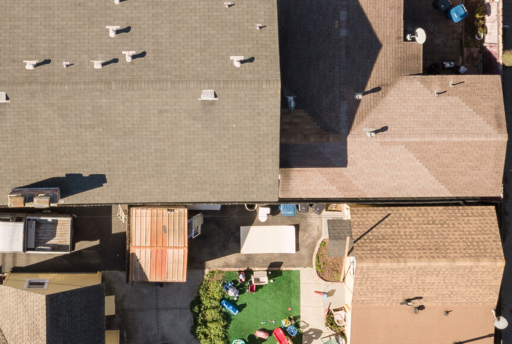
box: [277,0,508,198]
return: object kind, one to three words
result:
house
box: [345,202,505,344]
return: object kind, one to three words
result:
building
